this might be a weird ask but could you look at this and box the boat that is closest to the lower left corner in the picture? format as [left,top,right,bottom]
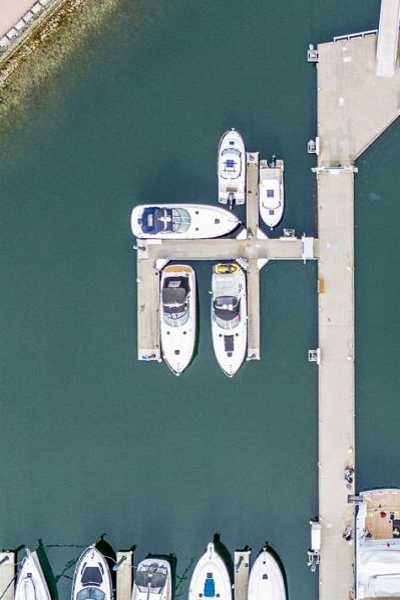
[4,549,60,600]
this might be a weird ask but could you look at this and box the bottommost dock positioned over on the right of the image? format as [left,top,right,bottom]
[234,550,252,600]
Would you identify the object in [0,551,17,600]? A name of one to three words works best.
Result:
pier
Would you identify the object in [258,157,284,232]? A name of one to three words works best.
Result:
boat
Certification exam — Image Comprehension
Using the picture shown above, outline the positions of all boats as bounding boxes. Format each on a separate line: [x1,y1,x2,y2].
[132,204,244,242]
[70,544,117,600]
[188,541,236,600]
[218,125,250,209]
[4,549,60,600]
[246,546,288,600]
[132,556,172,600]
[353,485,400,600]
[258,157,284,232]
[212,263,251,380]
[158,265,196,379]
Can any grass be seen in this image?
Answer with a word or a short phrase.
No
